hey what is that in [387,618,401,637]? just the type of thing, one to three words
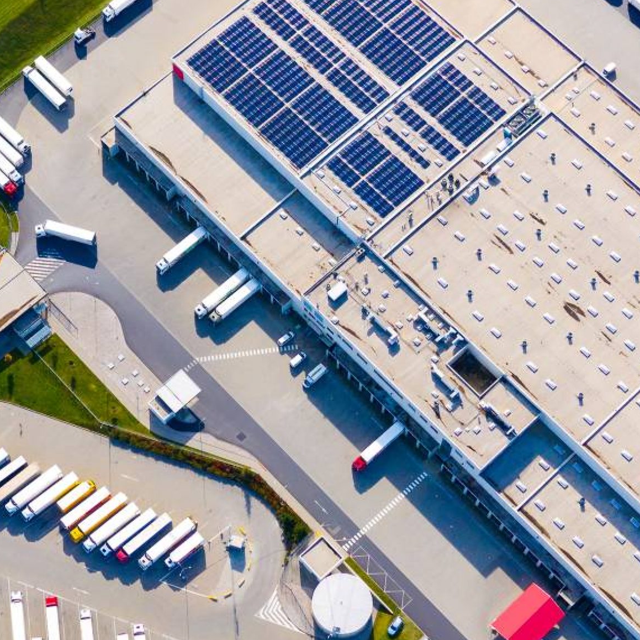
car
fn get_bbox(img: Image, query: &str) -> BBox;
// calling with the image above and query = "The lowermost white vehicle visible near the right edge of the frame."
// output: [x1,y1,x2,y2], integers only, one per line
[603,60,616,79]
